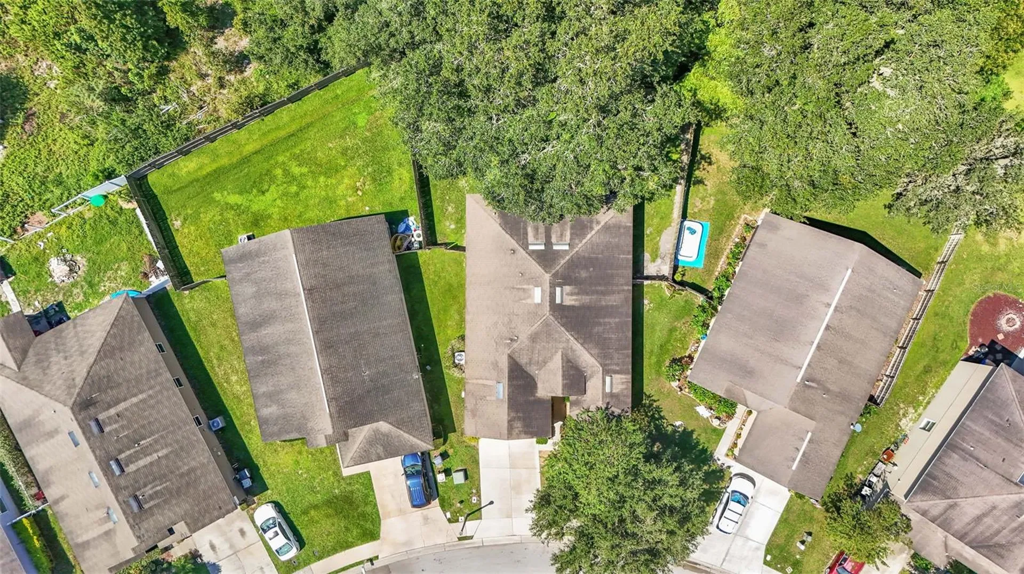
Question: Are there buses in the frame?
No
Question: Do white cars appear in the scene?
Yes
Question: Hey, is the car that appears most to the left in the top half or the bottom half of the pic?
bottom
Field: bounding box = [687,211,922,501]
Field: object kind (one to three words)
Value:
house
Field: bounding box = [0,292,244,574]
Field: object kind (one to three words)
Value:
house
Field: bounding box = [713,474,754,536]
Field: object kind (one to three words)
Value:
car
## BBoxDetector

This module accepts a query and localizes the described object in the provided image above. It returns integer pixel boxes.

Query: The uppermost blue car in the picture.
[402,452,433,512]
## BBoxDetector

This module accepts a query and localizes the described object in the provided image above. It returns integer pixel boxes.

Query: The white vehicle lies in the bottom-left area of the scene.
[259,501,298,562]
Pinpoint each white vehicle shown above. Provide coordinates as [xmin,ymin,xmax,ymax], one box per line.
[259,501,298,562]
[713,474,754,536]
